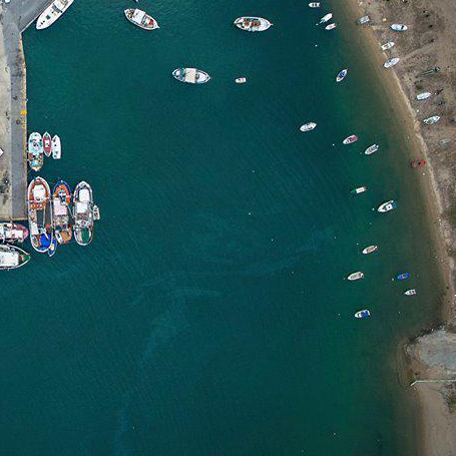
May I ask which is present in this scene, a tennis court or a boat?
boat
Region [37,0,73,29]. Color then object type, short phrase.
white boat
